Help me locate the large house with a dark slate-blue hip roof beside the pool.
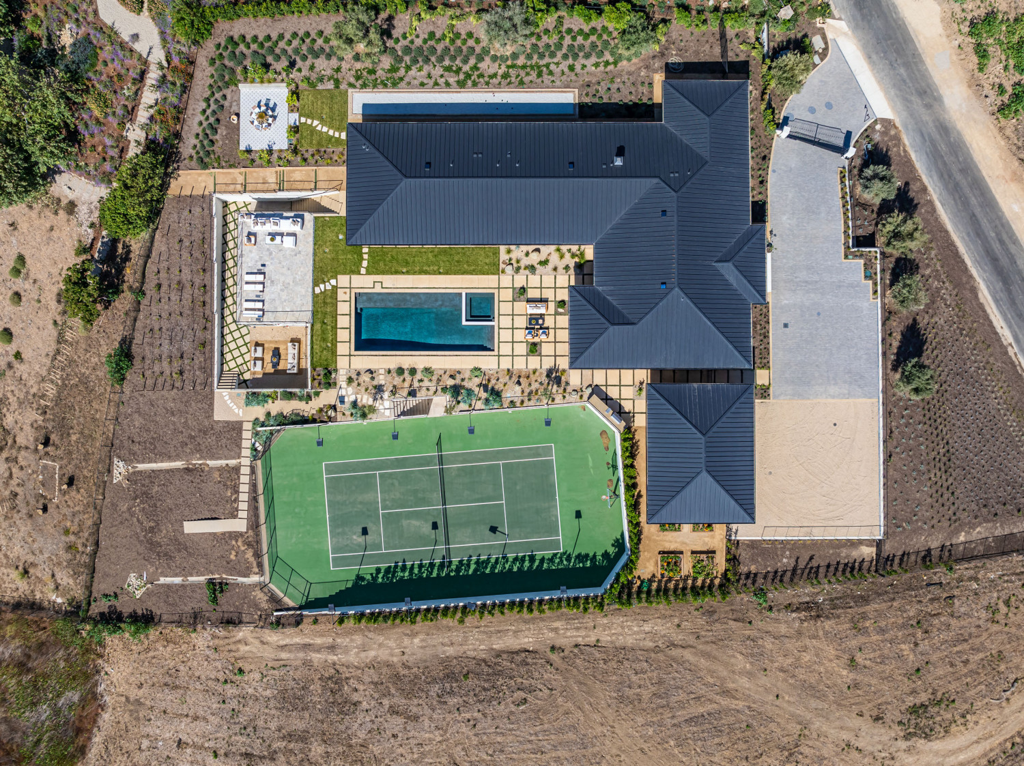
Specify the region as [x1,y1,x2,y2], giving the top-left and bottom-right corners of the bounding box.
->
[346,79,766,370]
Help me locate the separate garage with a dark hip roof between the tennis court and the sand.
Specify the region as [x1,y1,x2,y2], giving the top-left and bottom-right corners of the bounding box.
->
[646,382,756,525]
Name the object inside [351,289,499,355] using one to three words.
swimming pool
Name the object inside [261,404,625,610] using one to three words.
tennis court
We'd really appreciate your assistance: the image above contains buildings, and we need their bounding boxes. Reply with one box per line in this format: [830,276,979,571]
[346,79,766,370]
[646,382,756,525]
